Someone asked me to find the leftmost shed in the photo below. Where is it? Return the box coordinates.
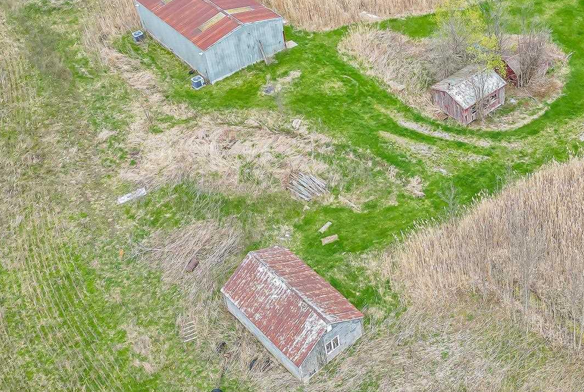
[132,0,286,84]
